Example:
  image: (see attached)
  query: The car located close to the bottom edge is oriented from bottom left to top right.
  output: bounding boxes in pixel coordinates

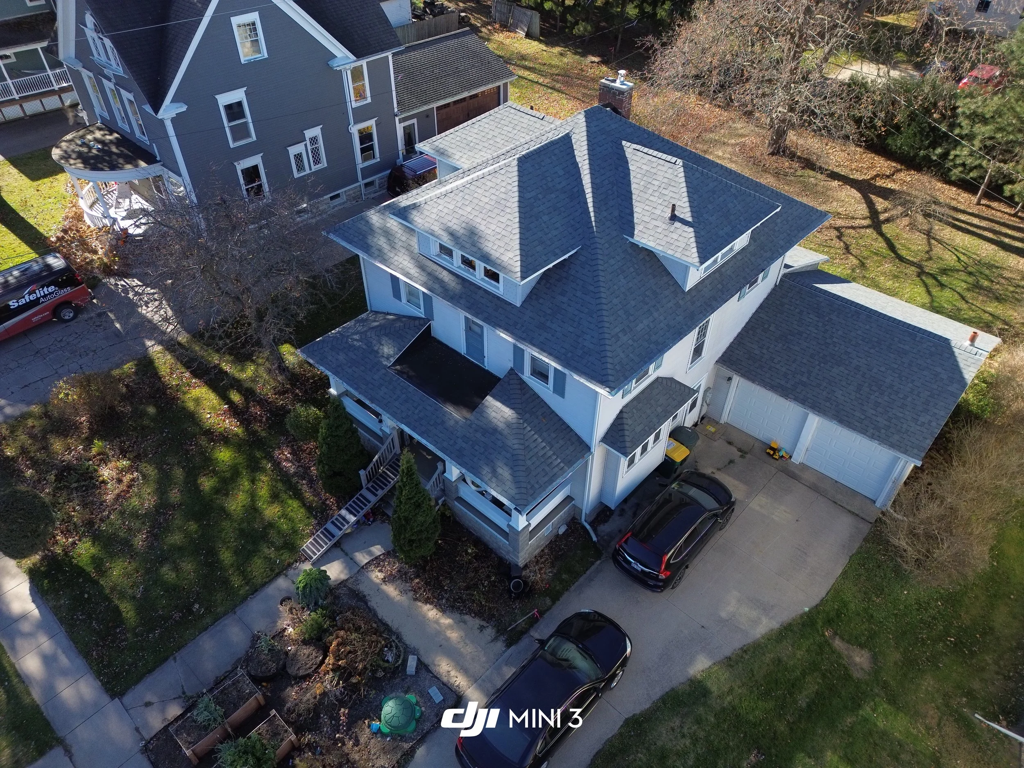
[448,613,628,768]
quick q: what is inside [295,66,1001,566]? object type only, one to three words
house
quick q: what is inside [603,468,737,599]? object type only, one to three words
car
